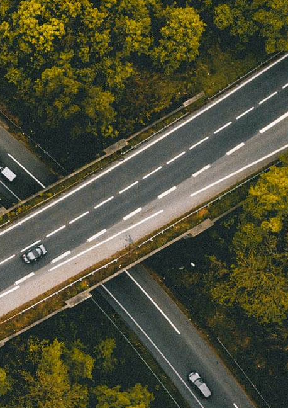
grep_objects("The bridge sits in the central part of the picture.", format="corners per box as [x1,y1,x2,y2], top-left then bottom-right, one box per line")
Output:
[0,91,249,348]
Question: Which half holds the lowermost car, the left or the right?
right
